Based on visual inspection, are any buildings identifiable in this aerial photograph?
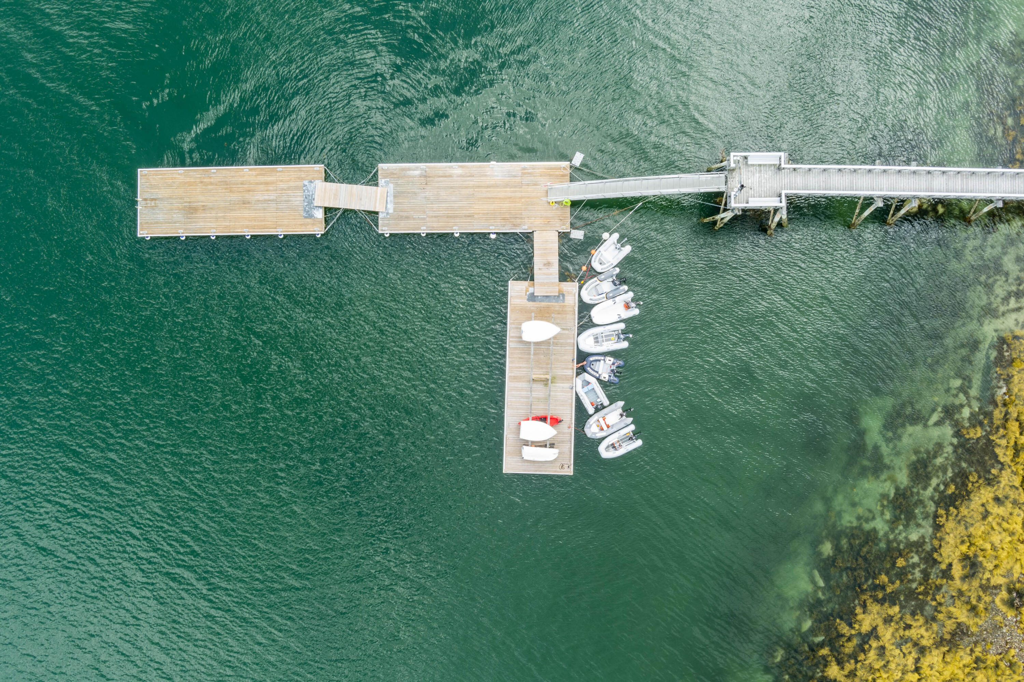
No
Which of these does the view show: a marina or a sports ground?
marina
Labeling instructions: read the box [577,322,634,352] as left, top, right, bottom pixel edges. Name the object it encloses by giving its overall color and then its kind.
white boat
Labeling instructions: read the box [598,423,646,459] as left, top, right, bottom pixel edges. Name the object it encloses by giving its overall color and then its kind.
white boat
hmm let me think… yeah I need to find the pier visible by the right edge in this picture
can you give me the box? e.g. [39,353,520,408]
[698,152,1024,236]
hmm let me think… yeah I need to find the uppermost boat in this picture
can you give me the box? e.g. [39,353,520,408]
[590,231,632,272]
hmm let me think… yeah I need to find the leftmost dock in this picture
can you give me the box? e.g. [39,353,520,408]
[135,165,326,237]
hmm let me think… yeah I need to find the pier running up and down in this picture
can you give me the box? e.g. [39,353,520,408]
[503,281,578,475]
